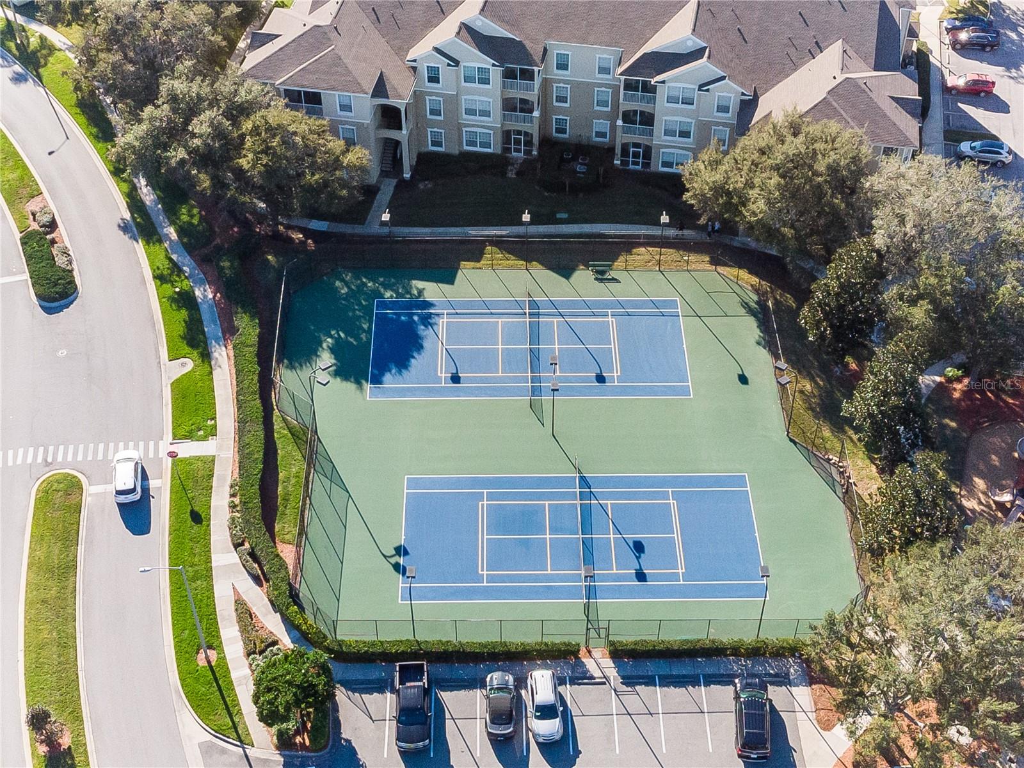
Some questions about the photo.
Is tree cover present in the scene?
Yes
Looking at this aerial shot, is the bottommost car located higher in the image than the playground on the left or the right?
right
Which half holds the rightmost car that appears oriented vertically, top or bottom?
bottom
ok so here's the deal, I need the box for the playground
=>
[920,374,1024,554]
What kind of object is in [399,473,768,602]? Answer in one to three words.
tennis court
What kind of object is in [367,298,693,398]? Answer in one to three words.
tennis court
